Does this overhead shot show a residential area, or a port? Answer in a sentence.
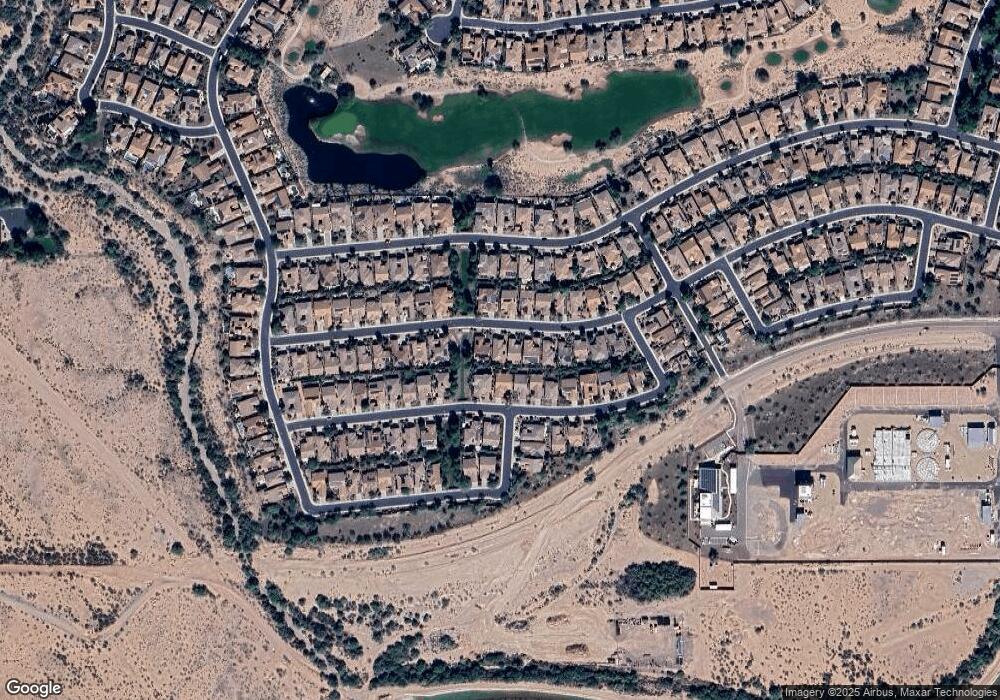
It's a residential area.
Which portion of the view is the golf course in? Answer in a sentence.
The golf course sits in the top section of the image.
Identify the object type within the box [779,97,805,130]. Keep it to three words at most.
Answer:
house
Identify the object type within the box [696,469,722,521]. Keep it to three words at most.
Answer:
building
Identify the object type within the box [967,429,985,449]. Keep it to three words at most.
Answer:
shed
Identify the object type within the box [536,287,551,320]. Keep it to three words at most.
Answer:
house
